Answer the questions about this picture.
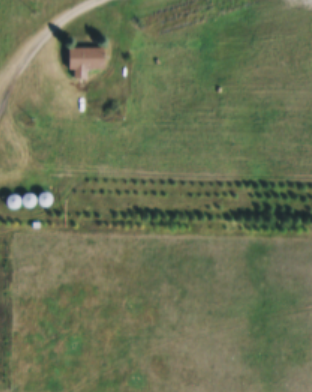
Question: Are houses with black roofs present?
No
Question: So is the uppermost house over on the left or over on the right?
left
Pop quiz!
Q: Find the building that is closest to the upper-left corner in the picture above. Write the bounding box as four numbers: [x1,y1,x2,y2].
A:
[69,46,104,79]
